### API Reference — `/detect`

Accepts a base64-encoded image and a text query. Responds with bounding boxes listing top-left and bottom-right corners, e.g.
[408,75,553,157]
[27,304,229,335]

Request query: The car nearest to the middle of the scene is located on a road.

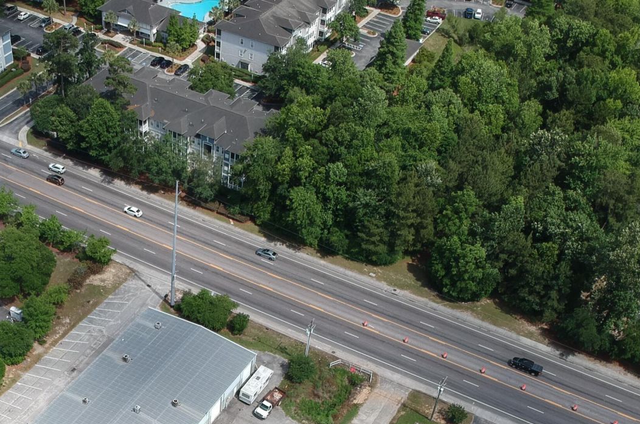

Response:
[256,249,277,262]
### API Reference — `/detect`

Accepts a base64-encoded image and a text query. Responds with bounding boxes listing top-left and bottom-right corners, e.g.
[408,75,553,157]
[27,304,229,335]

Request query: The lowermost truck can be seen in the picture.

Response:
[258,390,283,417]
